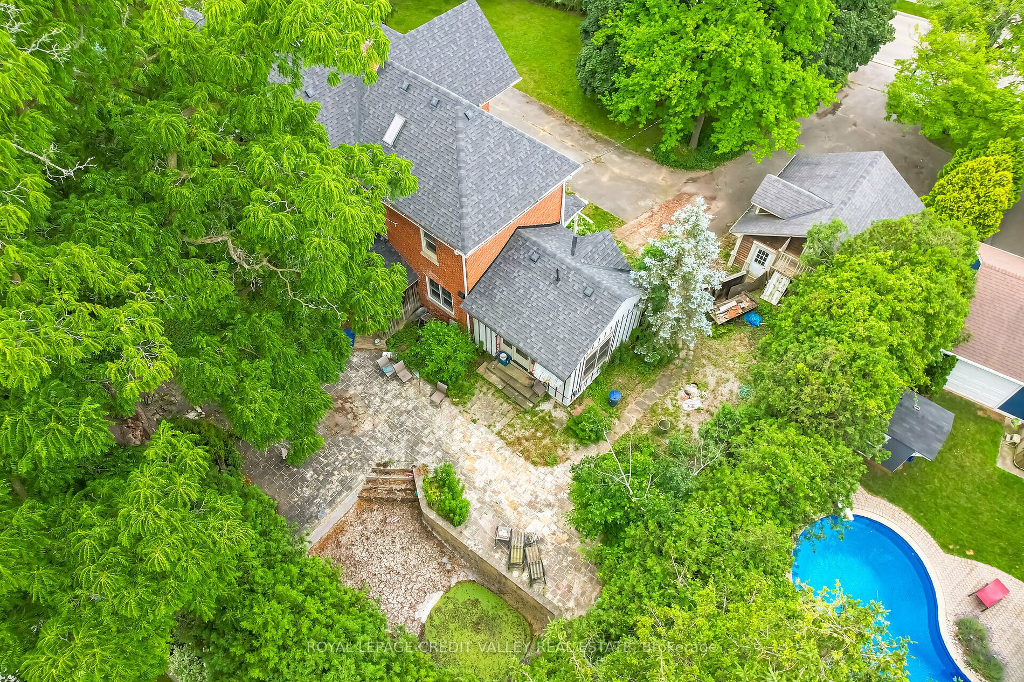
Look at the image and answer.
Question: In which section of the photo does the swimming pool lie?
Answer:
bottom right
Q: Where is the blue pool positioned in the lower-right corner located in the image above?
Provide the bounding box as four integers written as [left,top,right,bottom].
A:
[783,506,981,682]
